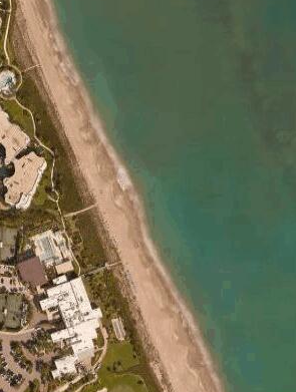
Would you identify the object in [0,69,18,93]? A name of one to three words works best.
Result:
swimming pool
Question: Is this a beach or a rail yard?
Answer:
beach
